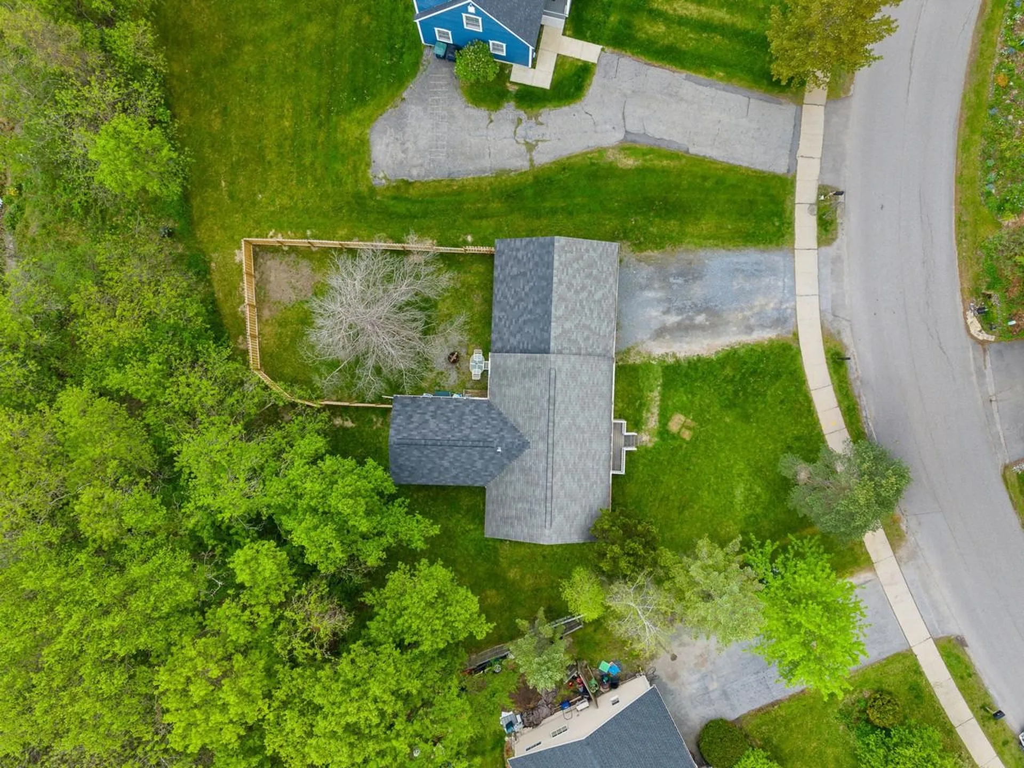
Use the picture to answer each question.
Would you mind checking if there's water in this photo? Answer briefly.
No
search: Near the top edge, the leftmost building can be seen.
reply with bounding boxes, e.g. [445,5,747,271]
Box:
[413,0,546,68]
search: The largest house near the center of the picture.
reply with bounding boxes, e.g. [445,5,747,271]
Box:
[391,235,620,545]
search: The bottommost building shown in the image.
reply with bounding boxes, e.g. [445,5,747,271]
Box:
[506,674,698,768]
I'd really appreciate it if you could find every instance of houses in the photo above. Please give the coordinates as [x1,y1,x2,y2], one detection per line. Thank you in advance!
[413,0,546,68]
[391,235,620,545]
[506,674,698,768]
